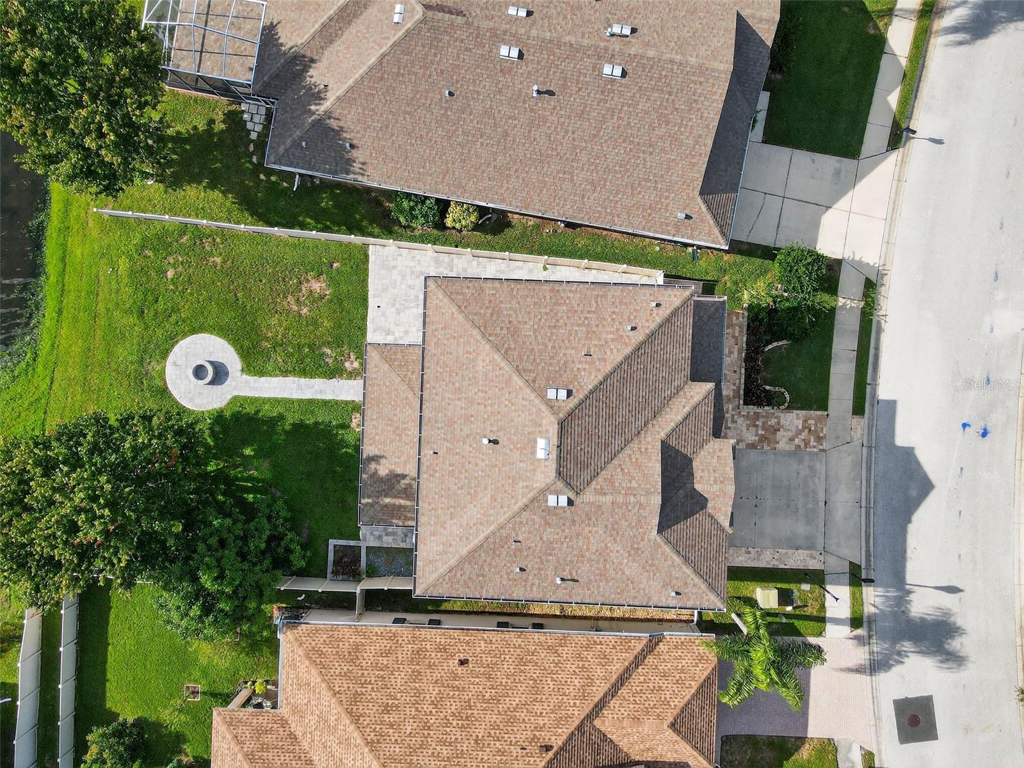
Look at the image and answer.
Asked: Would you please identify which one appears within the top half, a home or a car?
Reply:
home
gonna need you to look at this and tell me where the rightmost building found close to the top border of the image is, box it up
[251,0,784,252]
